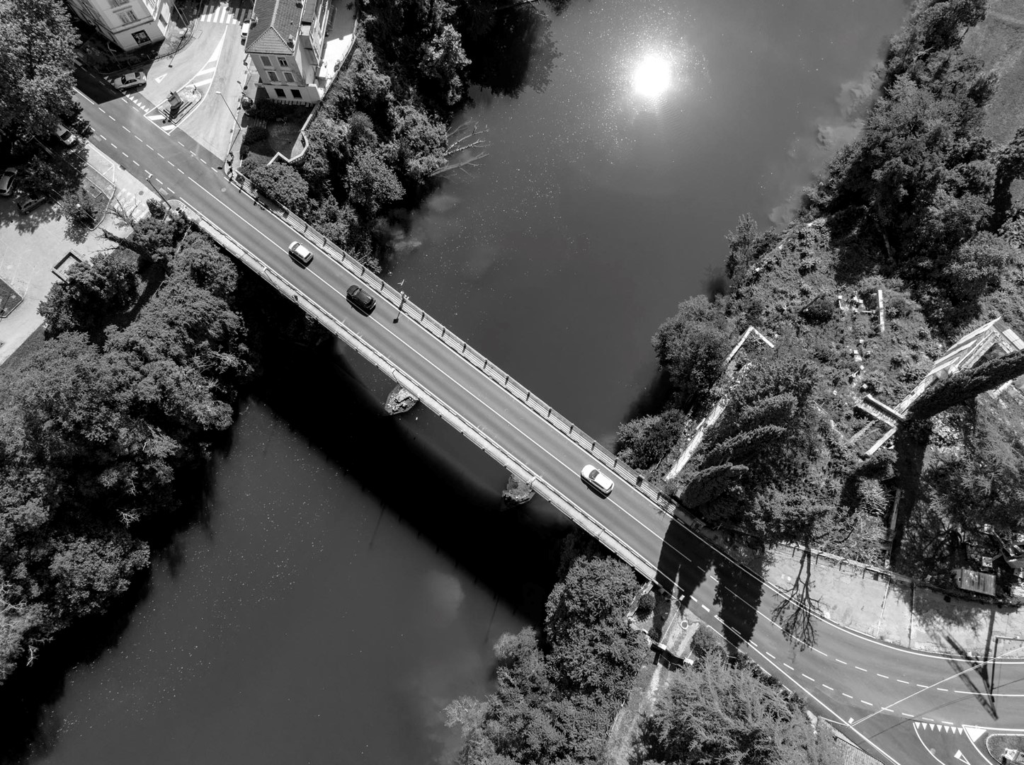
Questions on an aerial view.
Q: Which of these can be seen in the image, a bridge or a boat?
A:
bridge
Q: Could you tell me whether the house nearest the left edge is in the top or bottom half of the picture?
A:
top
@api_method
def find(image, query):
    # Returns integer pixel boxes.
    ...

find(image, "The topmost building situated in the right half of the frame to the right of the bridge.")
[924,317,1024,378]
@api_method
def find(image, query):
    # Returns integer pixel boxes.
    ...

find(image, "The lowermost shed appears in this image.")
[828,737,881,765]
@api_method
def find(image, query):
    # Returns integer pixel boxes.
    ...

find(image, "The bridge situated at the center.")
[188,170,711,594]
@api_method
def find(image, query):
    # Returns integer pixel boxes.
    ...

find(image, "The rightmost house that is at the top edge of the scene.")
[246,0,335,101]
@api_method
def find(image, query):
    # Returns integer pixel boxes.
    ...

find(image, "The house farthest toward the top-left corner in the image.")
[63,0,174,50]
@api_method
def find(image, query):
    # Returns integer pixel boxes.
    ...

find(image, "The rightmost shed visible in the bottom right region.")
[950,569,996,596]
